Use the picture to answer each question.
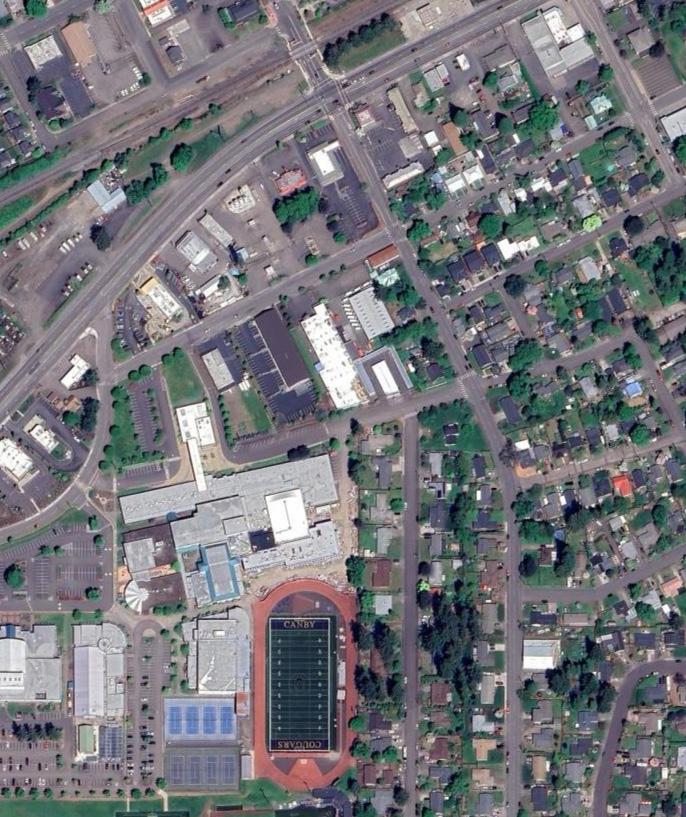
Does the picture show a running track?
Yes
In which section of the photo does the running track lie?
bottom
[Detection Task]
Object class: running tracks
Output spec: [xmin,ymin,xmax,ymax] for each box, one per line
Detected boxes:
[253,579,357,792]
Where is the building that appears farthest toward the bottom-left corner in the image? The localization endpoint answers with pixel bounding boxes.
[76,722,98,761]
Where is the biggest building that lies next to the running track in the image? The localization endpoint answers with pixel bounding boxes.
[119,454,338,607]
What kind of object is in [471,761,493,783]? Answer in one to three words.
house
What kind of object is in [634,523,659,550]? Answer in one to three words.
house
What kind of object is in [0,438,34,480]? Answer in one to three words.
building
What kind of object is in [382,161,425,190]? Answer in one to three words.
building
